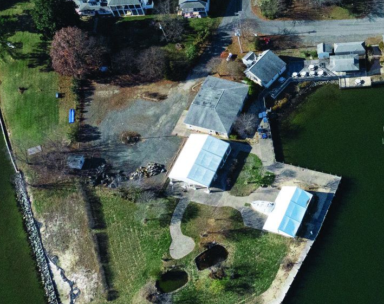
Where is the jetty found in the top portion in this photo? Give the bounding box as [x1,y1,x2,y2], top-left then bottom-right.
[340,76,371,92]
